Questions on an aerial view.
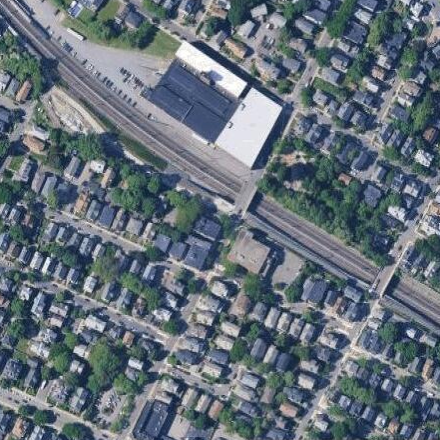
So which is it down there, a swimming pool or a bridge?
bridge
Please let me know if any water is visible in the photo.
No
